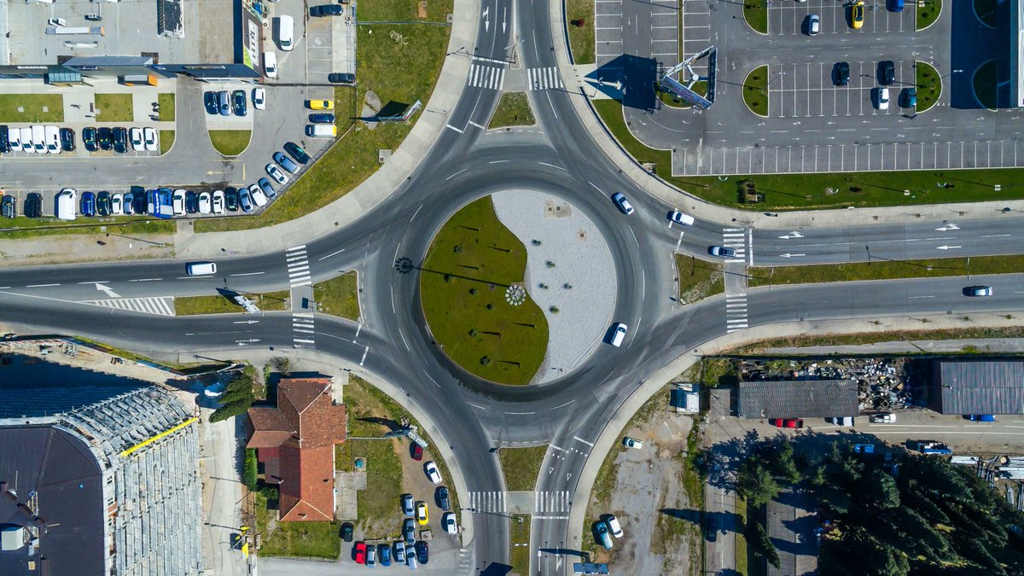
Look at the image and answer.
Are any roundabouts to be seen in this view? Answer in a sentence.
Yes, this view includes a roundabout.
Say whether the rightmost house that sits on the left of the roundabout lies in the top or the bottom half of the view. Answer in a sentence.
The rightmost house that sits on the left of the roundabout sits in the bottom half of the picture.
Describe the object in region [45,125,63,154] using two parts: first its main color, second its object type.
white vehicle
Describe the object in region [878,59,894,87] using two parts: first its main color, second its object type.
black car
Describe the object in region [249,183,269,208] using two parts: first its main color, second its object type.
white car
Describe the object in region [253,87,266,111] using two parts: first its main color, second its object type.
white vehicle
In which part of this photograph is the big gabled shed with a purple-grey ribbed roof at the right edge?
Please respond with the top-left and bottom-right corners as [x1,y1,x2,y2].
[923,357,1024,415]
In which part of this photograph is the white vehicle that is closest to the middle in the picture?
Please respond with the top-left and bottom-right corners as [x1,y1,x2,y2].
[610,321,627,347]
